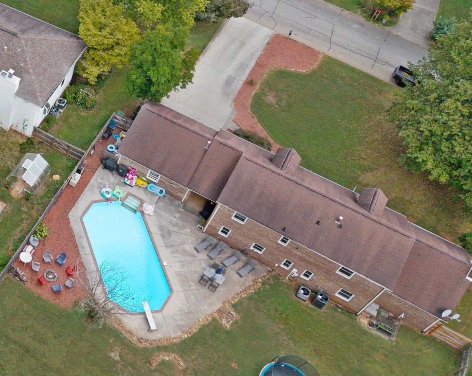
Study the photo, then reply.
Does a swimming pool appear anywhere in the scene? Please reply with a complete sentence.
Yes, the image includes a swimming pool.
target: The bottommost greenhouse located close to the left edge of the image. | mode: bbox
[8,151,44,196]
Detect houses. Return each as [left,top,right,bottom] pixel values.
[0,4,90,132]
[116,99,472,332]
